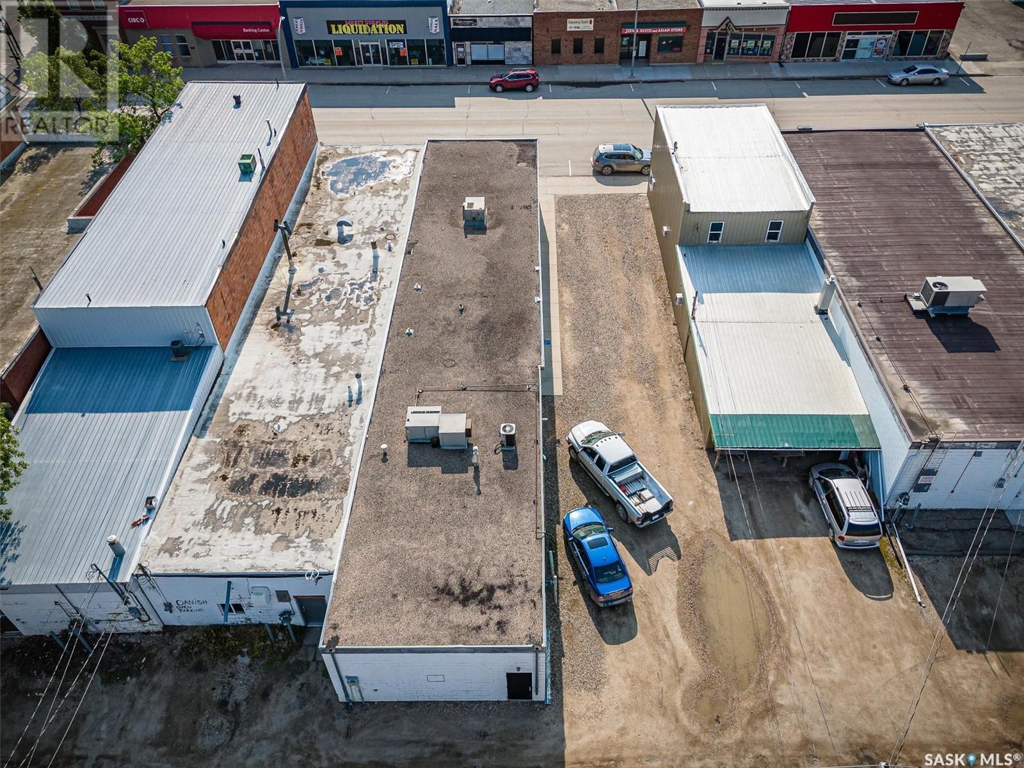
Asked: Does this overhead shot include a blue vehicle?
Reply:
Yes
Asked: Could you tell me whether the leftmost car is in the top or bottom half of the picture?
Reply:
top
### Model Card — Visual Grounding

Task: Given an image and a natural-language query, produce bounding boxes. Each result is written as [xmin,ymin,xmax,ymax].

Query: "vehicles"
[487,63,539,90]
[810,462,890,557]
[593,139,652,173]
[564,508,639,607]
[886,61,951,85]
[560,420,675,534]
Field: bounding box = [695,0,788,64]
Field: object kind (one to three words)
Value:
building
